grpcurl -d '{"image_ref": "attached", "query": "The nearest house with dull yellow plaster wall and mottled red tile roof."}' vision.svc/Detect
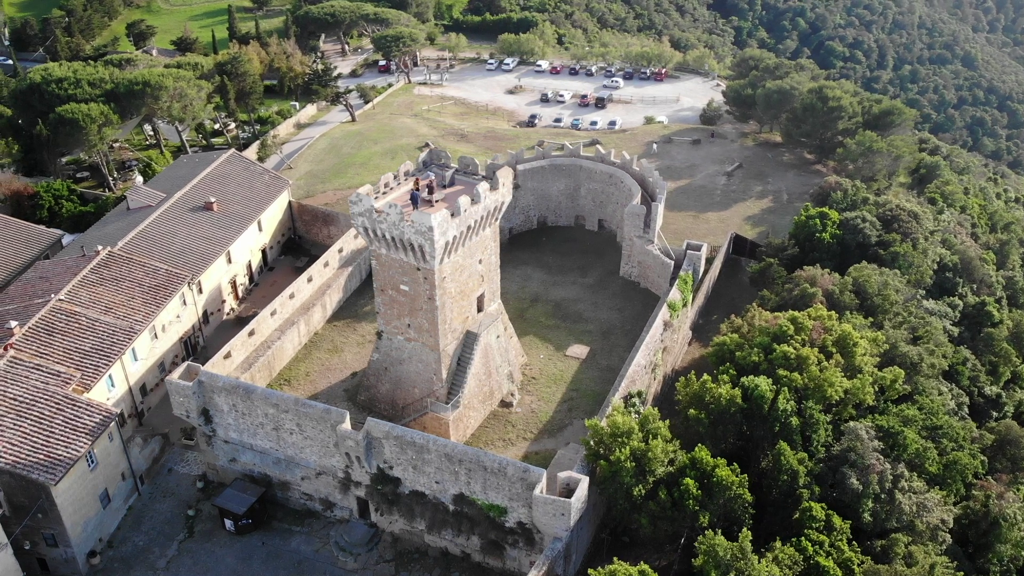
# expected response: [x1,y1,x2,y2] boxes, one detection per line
[0,368,138,565]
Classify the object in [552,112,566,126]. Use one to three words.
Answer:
car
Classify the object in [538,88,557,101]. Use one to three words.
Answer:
vehicle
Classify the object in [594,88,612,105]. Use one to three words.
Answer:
vehicle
